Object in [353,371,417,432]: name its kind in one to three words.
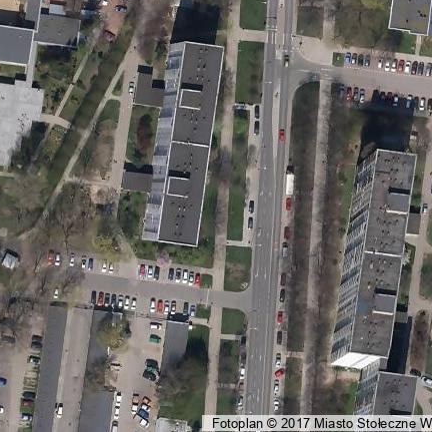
building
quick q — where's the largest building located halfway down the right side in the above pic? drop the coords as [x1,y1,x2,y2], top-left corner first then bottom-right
[331,149,417,365]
